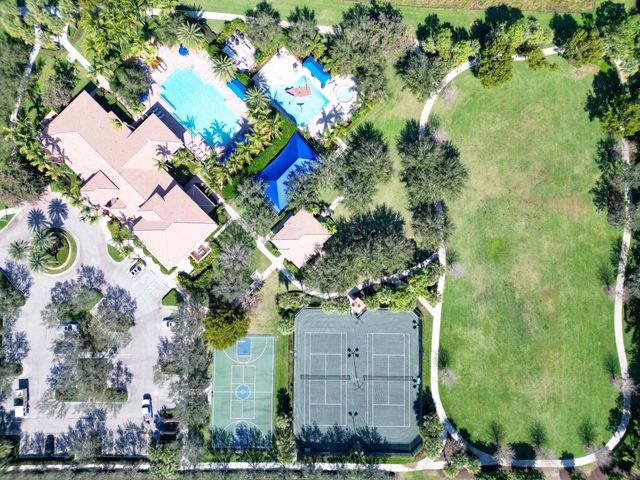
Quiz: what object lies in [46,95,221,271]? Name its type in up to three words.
building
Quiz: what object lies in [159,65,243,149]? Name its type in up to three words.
swimming pool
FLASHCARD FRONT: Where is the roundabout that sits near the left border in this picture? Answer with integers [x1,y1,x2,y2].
[32,229,79,276]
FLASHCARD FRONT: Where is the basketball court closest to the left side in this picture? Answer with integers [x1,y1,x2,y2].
[213,336,274,448]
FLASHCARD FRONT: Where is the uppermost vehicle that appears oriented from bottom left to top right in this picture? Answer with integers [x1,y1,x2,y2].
[127,263,146,279]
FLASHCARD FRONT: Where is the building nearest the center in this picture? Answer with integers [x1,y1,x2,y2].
[272,208,331,267]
